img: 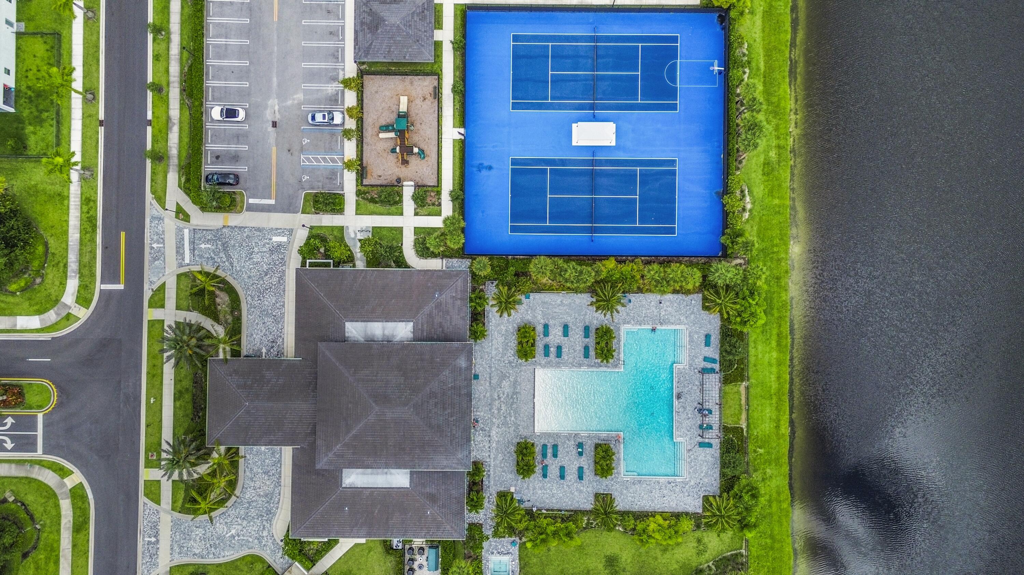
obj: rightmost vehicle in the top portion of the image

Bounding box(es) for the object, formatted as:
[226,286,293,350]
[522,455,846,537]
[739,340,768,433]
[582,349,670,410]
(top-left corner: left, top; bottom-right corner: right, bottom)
[307,108,343,125]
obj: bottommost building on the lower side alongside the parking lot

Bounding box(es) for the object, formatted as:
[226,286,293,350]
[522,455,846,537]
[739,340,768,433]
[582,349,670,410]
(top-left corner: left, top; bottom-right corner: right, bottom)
[206,268,473,540]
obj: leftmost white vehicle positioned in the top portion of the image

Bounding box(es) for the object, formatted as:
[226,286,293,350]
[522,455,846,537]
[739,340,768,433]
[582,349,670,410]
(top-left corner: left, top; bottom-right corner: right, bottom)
[210,104,245,121]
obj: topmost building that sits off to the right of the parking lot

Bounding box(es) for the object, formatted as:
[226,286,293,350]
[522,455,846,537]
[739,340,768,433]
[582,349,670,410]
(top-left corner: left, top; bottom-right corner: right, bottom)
[354,0,435,62]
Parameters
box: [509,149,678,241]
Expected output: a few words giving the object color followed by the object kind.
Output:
blue tennis court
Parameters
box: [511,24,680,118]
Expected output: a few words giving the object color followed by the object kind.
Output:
blue tennis court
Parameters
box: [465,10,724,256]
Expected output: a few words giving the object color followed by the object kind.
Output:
blue sports court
